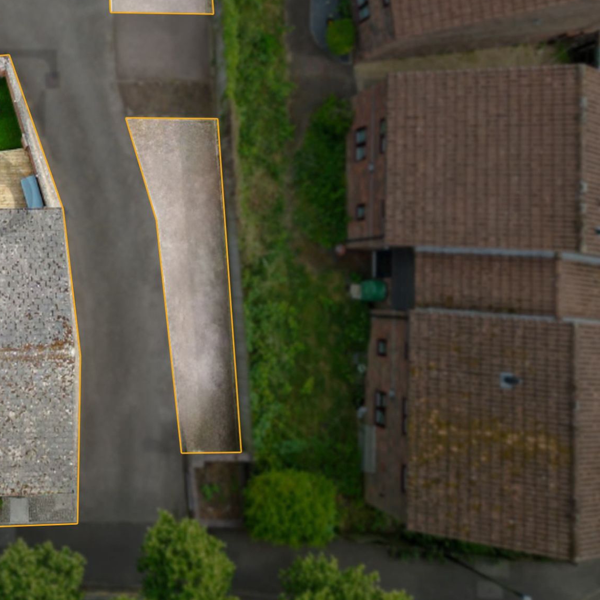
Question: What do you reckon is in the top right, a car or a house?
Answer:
house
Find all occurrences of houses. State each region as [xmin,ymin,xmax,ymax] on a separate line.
[369,306,600,563]
[0,207,80,498]
[350,0,600,69]
[346,63,600,257]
